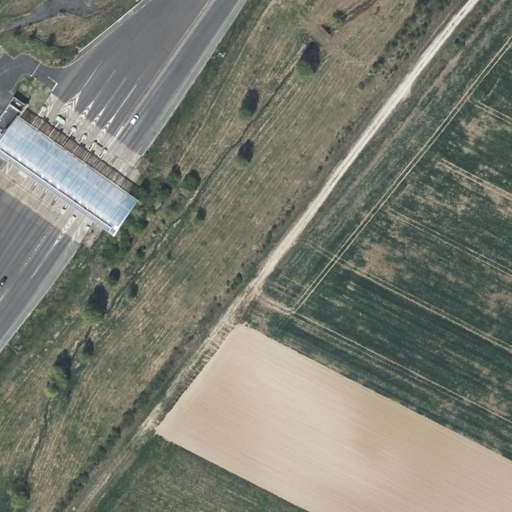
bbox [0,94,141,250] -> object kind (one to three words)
toll station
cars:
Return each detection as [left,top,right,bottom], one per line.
[0,276,8,286]
[130,114,140,125]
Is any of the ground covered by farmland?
Yes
